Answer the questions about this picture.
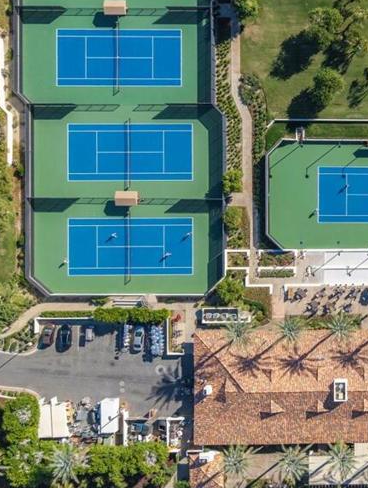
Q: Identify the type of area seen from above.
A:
sports ground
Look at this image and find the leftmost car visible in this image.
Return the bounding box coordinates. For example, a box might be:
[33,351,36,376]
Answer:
[38,324,52,347]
